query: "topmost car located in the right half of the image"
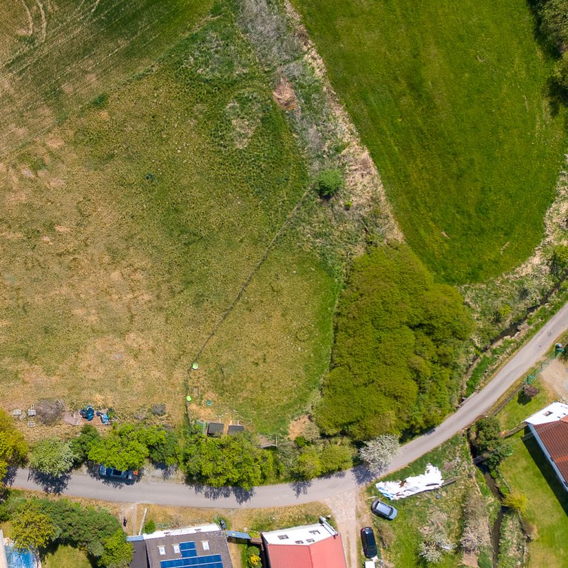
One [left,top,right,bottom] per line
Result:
[370,498,399,521]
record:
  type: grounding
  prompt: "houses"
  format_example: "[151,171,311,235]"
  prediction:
[525,404,568,494]
[259,524,347,568]
[144,525,233,568]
